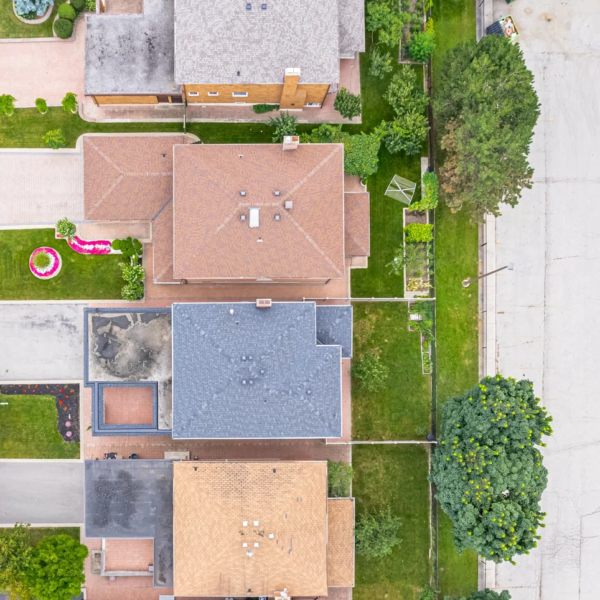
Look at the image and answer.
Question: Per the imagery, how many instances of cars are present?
0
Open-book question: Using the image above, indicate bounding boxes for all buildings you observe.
[83,294,354,440]
[83,130,370,284]
[85,460,355,600]
[84,0,365,111]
